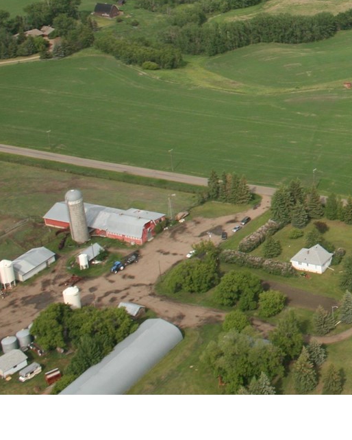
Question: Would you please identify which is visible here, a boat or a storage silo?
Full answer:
The one in the frame is a storage silo.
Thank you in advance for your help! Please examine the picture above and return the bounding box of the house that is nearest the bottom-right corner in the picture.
[289,242,337,273]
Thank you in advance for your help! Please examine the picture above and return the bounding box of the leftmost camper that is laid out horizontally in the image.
[17,363,41,377]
